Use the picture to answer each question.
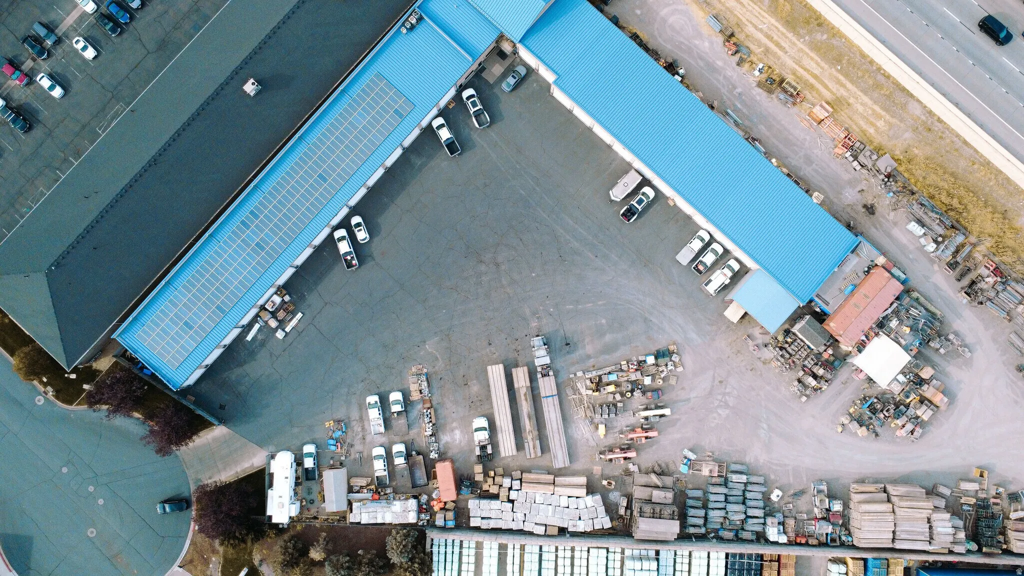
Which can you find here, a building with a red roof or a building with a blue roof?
building with a blue roof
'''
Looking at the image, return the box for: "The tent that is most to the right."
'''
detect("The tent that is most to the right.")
[847,331,910,388]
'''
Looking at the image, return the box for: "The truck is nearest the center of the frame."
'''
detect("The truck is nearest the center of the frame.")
[531,334,554,392]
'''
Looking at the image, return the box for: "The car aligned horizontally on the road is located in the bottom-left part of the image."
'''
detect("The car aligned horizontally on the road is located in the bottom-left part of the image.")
[157,497,190,513]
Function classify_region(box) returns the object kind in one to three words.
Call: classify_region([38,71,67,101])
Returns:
car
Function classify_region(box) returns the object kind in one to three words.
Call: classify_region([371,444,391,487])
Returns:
vehicle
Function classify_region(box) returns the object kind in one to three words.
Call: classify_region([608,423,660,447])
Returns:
work vehicle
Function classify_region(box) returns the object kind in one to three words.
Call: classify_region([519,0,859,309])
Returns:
building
